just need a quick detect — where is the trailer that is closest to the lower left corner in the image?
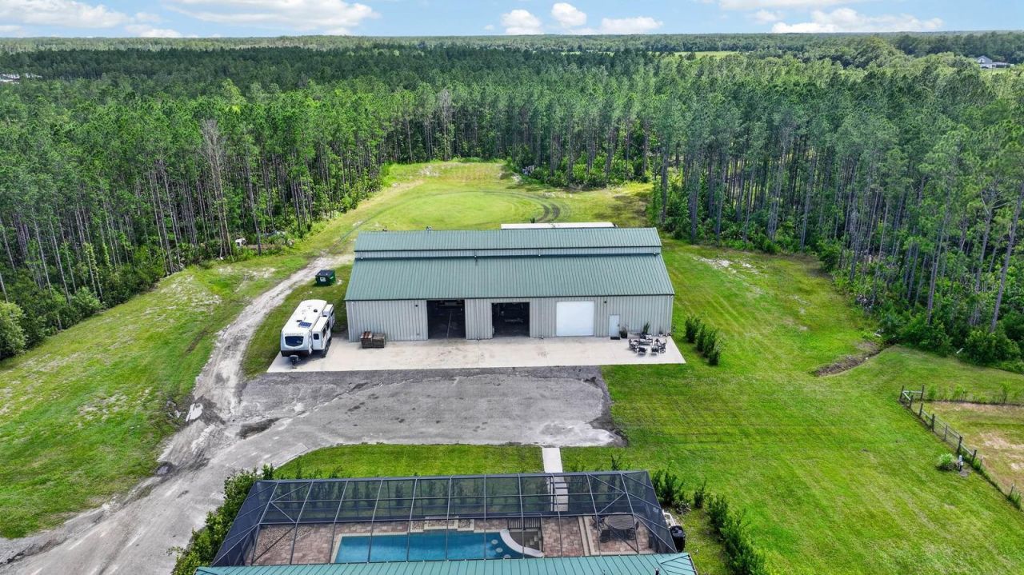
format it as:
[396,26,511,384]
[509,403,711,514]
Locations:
[283,302,337,368]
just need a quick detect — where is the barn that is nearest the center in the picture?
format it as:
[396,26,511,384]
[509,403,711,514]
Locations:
[343,226,676,342]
